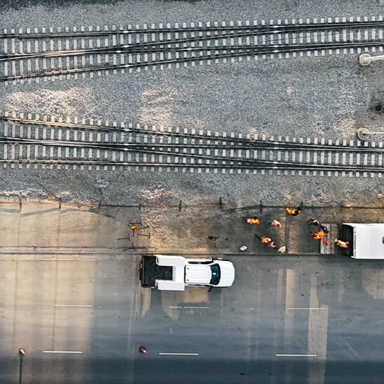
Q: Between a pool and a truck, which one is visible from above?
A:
truck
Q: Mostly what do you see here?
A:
paved ground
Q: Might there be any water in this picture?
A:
No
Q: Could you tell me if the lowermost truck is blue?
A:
No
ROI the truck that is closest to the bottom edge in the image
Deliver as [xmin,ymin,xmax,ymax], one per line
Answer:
[138,256,235,289]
